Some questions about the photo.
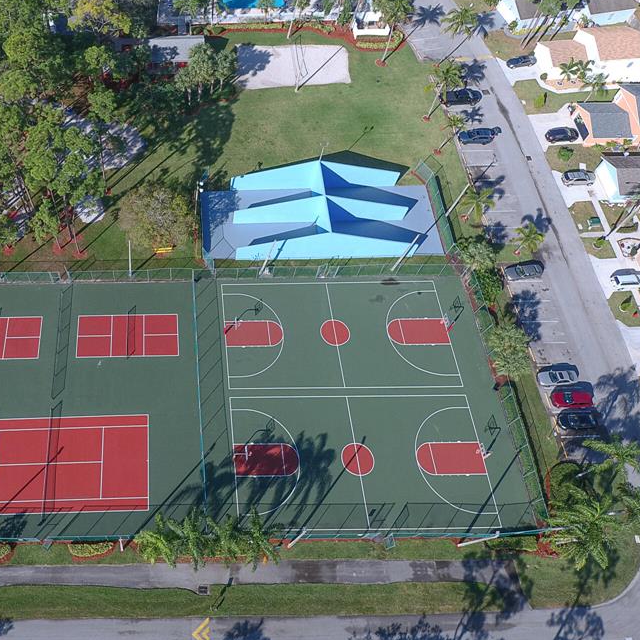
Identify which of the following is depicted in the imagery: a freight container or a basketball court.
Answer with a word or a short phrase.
basketball court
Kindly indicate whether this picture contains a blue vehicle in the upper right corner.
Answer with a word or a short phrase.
Yes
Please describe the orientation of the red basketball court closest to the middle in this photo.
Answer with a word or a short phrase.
from side to side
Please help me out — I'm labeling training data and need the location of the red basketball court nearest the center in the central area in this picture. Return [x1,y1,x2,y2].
[219,281,463,390]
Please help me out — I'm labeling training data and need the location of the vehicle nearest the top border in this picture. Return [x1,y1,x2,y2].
[507,52,536,67]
